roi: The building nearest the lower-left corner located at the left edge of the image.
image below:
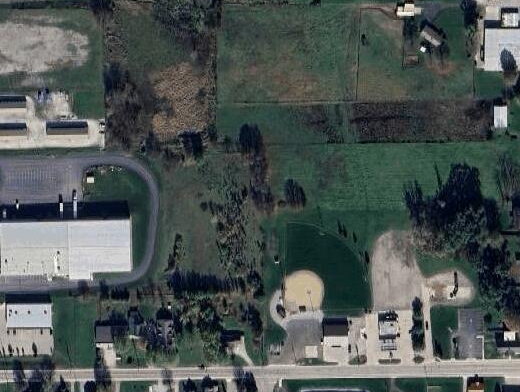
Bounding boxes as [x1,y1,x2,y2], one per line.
[7,303,51,329]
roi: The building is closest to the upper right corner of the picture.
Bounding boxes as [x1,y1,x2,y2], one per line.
[485,13,520,70]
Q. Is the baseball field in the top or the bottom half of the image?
bottom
